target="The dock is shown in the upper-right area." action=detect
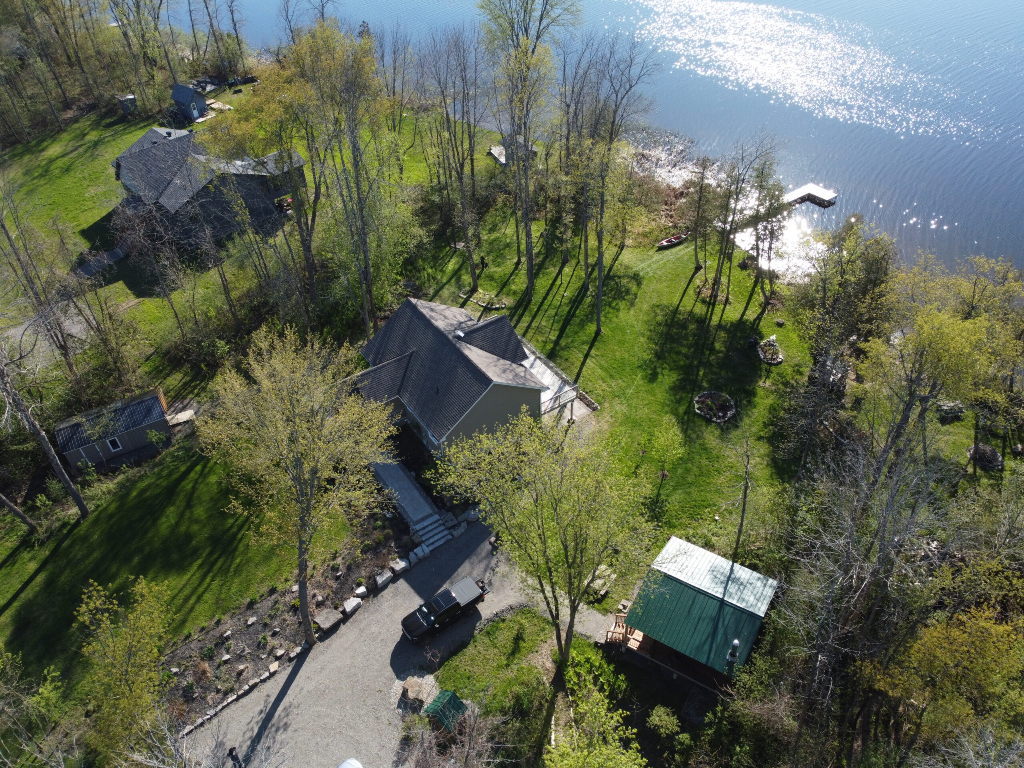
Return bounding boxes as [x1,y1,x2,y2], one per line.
[763,178,840,216]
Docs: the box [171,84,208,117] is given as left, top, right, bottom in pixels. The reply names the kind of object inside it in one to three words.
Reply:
shed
